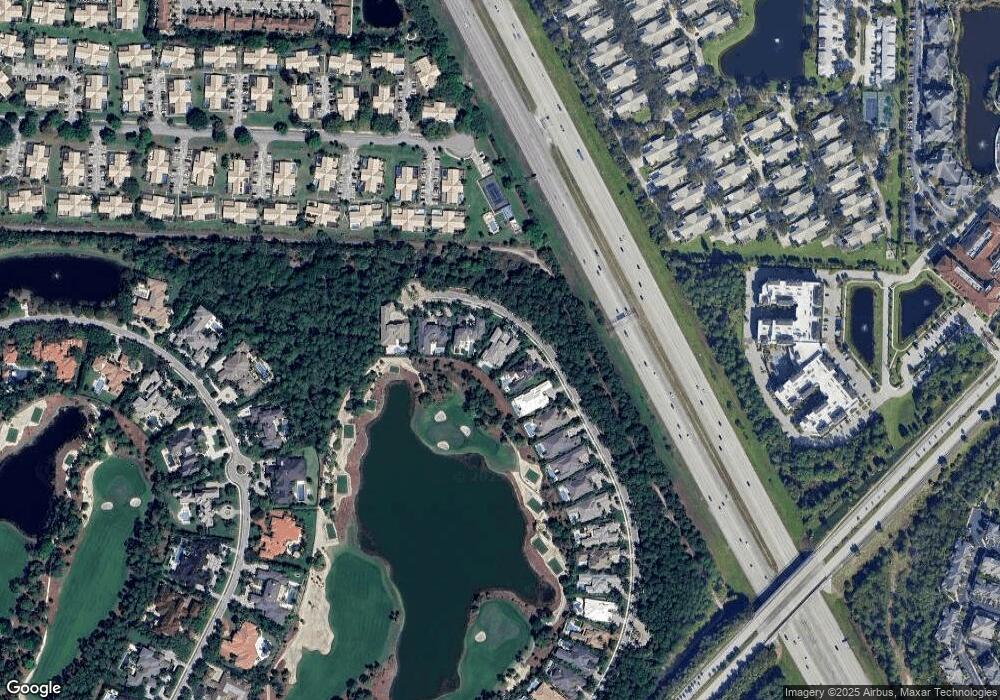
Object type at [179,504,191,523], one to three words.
swimming pool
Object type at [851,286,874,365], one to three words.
pond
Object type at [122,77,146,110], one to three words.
house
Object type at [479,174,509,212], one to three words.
tennis court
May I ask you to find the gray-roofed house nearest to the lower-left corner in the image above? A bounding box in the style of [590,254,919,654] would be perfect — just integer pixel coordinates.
[125,643,167,691]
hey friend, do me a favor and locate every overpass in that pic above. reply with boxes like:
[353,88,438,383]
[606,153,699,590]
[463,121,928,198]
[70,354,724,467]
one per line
[747,550,841,644]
